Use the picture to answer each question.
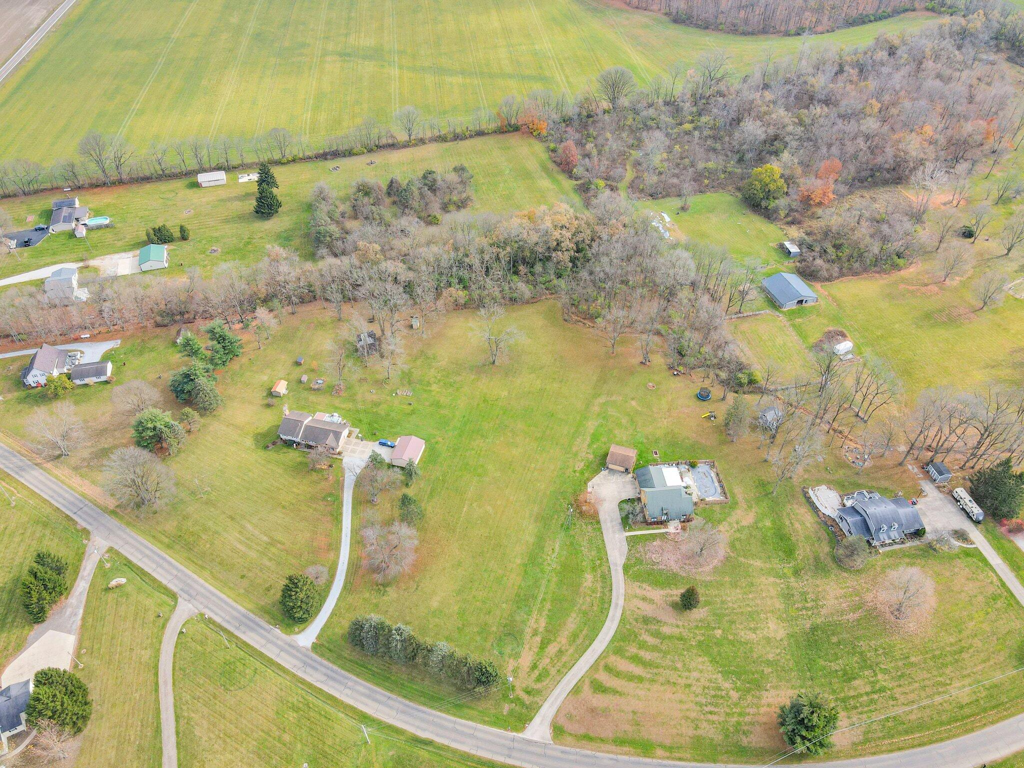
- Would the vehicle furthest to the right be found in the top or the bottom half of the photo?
bottom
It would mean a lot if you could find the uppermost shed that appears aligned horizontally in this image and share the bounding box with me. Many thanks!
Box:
[197,171,227,188]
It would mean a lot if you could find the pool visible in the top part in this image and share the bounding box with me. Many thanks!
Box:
[80,216,116,228]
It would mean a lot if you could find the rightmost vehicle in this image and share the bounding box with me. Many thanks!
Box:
[954,486,987,521]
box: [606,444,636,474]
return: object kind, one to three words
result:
building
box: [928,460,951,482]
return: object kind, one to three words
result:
shed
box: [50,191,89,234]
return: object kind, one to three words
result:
house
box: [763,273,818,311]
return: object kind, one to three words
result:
barn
